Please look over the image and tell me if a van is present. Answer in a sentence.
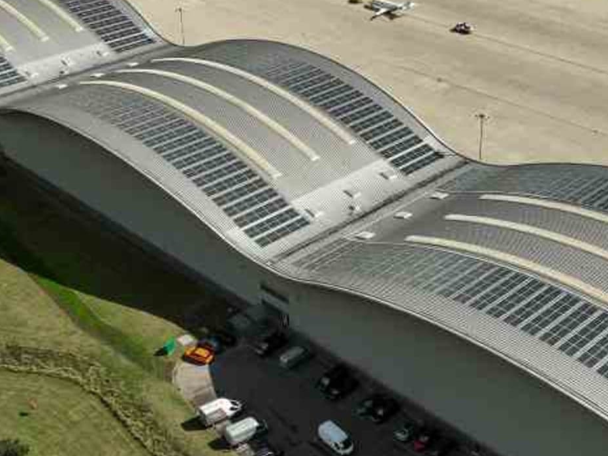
Yes, the picture does show a van.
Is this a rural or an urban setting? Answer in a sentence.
This place is urban.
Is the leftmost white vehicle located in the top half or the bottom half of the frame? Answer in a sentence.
The leftmost white vehicle is in the bottom half of the image.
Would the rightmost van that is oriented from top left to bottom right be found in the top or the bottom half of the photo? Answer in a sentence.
It is in the bottom half that the rightmost van that is oriented from top left to bottom right appears.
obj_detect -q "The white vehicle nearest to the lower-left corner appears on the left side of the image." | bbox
[201,399,240,423]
